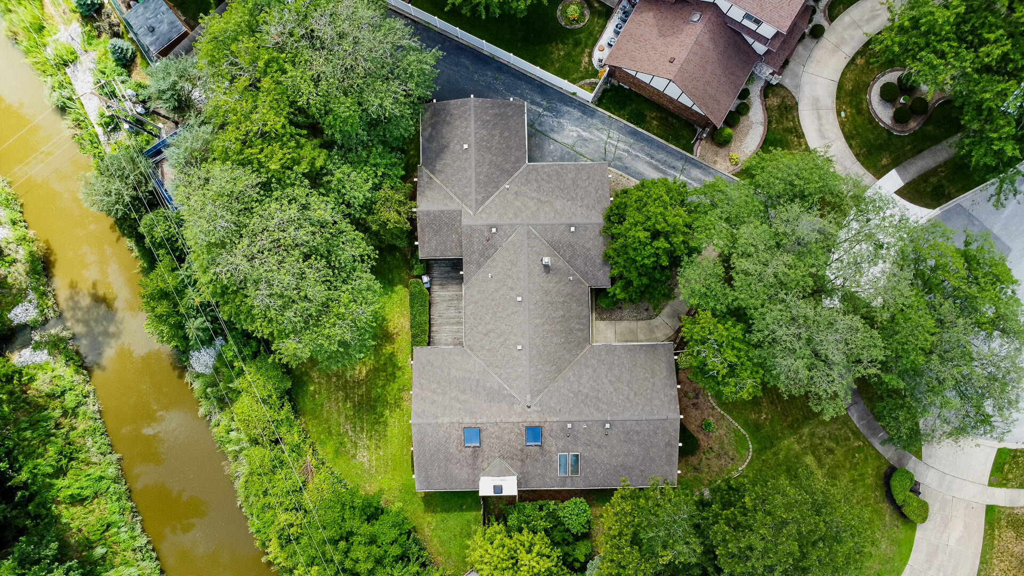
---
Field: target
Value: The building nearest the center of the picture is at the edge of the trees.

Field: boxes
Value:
[408,94,688,497]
